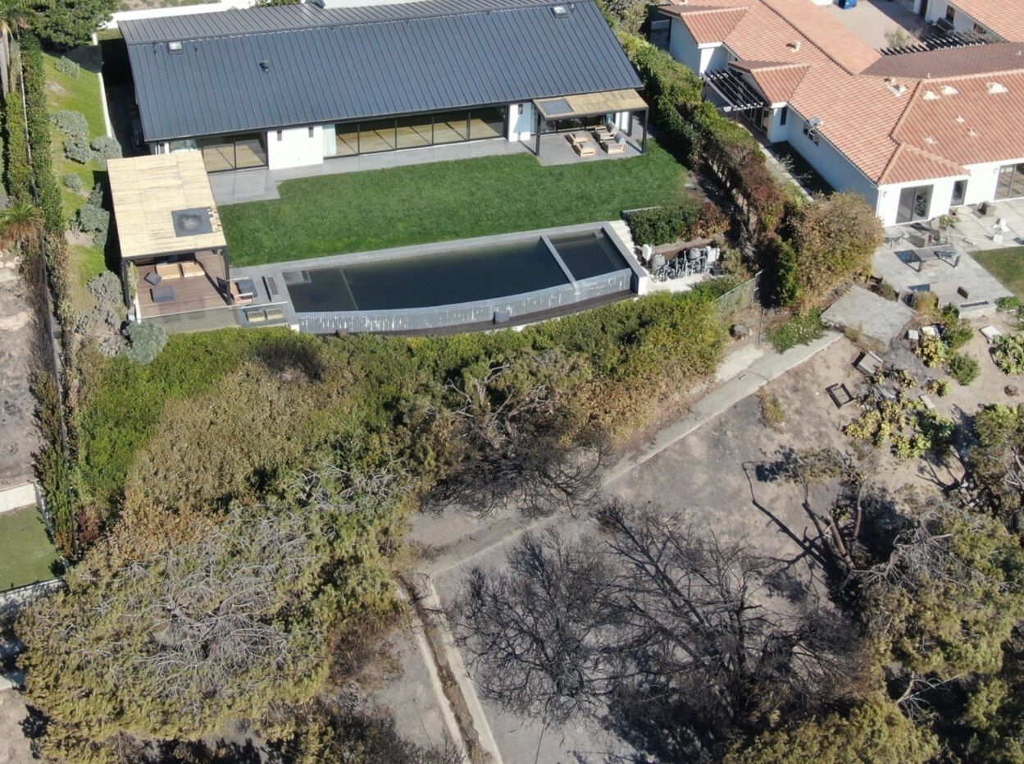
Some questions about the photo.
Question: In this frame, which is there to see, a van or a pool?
pool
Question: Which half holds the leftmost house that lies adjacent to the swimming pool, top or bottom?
top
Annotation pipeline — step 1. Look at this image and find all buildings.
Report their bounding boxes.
[119,0,642,172]
[650,0,1024,227]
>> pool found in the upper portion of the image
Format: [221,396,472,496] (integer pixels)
[232,220,650,361]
